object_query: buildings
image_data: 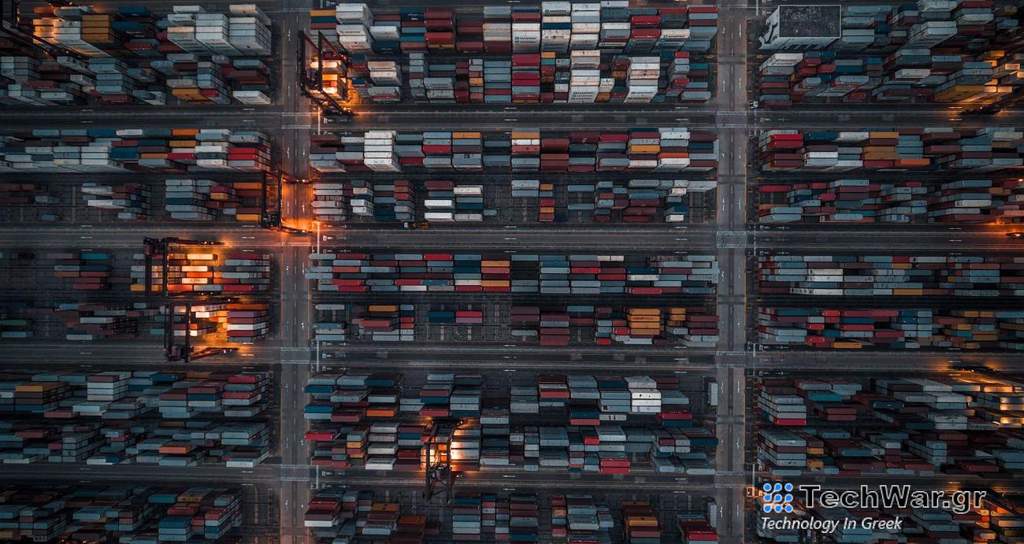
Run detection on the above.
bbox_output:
[757,4,841,51]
